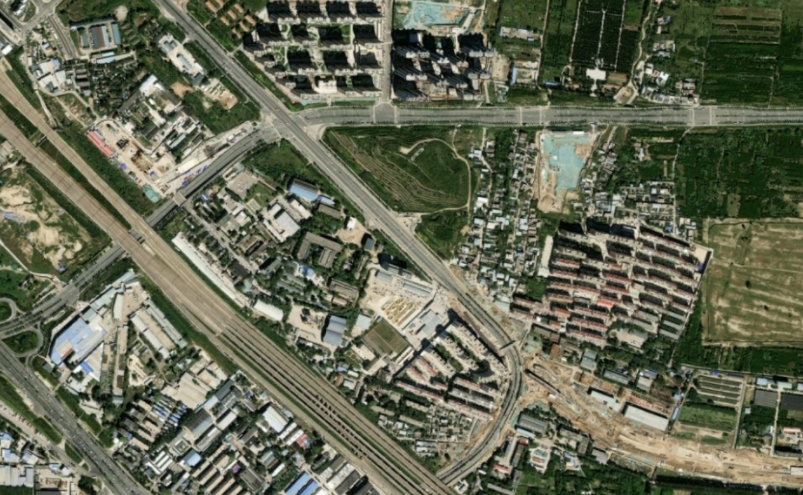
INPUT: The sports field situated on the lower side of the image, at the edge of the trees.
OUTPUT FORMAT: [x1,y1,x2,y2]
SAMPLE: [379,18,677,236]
[362,318,405,358]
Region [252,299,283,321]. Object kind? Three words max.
building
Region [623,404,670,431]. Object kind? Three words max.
building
